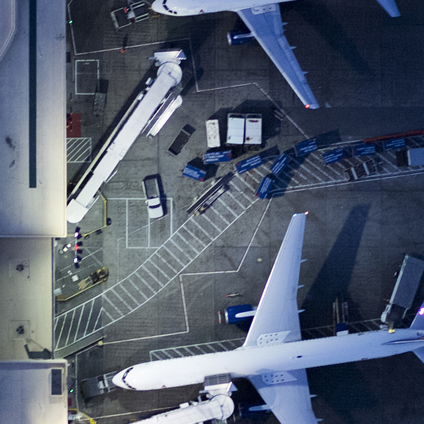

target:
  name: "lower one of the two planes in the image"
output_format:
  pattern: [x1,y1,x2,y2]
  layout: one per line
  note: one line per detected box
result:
[112,211,424,424]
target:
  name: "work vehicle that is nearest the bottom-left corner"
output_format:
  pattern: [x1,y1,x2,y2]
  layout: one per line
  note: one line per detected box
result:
[68,365,135,405]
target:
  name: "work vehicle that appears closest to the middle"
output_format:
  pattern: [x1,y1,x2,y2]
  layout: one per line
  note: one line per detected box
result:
[189,174,231,214]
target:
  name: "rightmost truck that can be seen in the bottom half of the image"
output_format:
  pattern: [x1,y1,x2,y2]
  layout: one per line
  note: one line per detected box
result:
[378,251,424,329]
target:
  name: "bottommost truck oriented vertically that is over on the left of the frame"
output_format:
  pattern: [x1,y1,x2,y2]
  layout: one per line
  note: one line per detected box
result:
[142,174,163,218]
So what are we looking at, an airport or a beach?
airport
